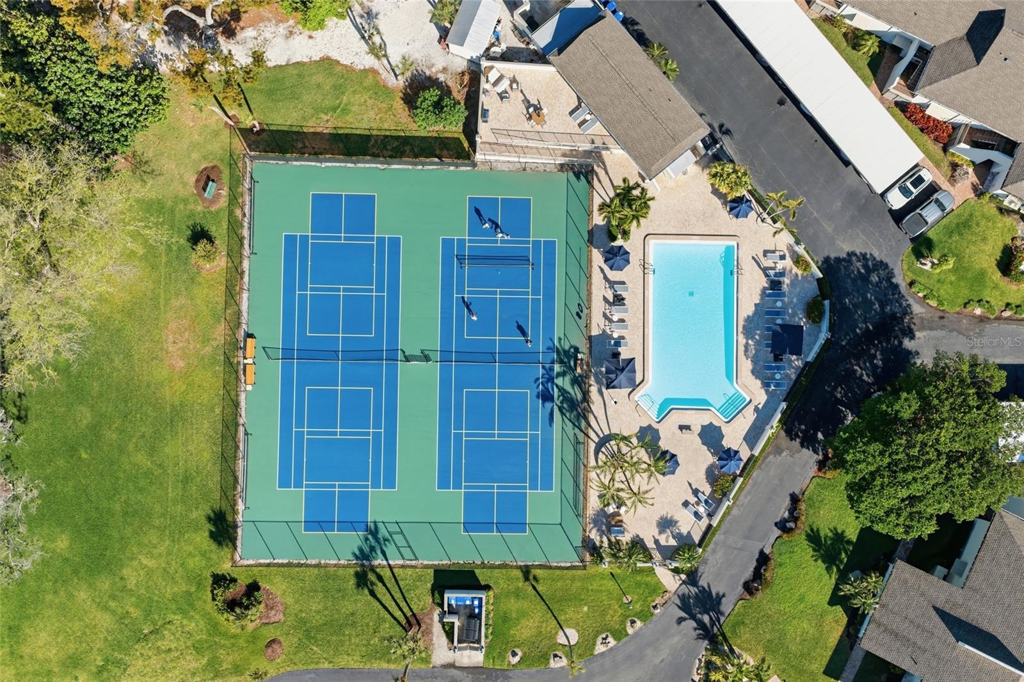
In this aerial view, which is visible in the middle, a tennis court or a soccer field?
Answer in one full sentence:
The feature located in the middle is a tennis court.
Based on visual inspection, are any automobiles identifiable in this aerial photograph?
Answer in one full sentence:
Yes, the picture does show an automobile.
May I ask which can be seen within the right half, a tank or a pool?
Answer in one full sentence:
Visible within the right half is a pool.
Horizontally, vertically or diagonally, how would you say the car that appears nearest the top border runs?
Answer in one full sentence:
In this picture, the car that appears nearest the top border is oriented diagonally.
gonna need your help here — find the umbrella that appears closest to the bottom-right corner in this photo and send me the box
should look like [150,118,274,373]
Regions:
[716,447,742,474]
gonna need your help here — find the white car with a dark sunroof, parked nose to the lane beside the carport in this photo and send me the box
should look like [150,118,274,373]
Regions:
[883,166,931,210]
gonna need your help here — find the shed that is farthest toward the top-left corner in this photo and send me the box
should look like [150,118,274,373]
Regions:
[446,0,501,65]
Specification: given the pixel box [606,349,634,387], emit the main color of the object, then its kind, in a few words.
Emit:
blue umbrella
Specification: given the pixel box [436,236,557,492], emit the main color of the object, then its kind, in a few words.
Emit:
blue tennis court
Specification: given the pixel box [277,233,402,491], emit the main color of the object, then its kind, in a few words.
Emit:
blue tennis court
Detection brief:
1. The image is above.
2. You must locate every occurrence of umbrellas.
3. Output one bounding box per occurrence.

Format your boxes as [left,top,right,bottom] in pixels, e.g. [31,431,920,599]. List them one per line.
[603,245,630,271]
[716,447,742,474]
[606,349,634,387]
[771,324,801,364]
[728,194,753,220]
[652,448,679,476]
